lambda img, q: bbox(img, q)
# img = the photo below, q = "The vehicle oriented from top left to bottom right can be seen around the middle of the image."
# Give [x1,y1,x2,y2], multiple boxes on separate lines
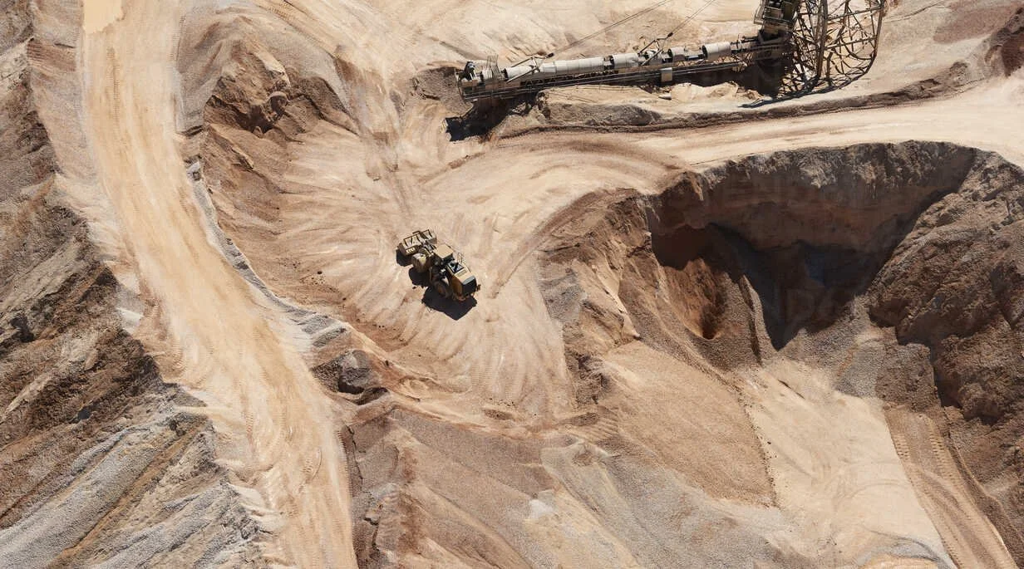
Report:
[397,220,482,301]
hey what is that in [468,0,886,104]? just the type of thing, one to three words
work vehicle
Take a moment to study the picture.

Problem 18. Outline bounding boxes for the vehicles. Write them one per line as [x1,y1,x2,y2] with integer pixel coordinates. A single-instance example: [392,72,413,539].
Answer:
[468,0,886,104]
[397,220,482,301]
